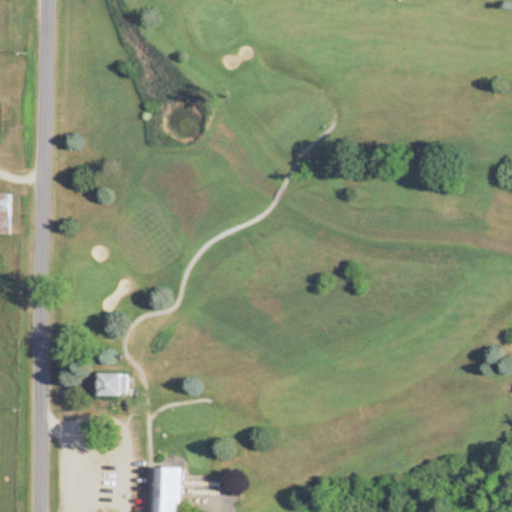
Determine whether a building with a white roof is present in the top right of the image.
No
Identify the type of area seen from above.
golf course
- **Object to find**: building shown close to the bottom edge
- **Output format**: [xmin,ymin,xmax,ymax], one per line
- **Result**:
[152,467,184,512]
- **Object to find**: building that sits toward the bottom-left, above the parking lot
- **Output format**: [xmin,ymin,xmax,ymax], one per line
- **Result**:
[95,374,134,397]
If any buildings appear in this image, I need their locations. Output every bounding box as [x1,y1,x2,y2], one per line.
[0,193,14,235]
[152,467,184,512]
[95,374,134,397]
